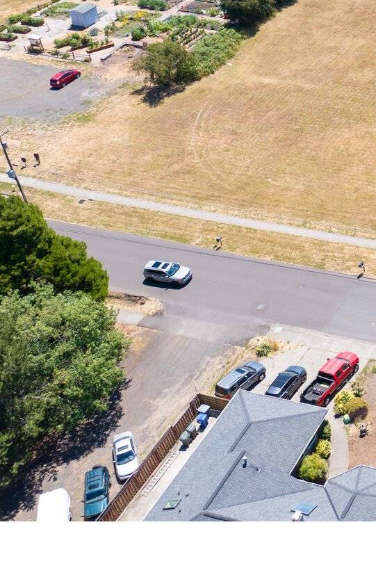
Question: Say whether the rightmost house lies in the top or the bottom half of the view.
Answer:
bottom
